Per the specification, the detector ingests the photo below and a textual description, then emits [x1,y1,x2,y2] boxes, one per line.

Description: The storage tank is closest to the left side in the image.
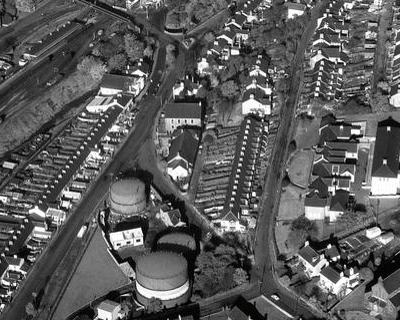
[110,176,147,213]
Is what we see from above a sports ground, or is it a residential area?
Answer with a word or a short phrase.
residential area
